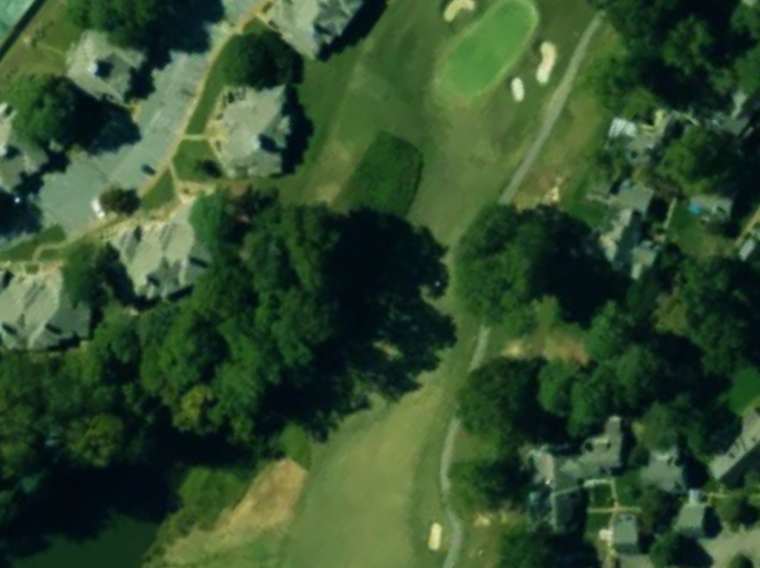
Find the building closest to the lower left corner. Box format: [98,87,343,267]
[0,262,99,356]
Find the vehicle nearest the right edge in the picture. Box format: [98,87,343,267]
[140,163,157,176]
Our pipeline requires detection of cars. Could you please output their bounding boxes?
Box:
[92,199,107,216]
[140,163,157,176]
